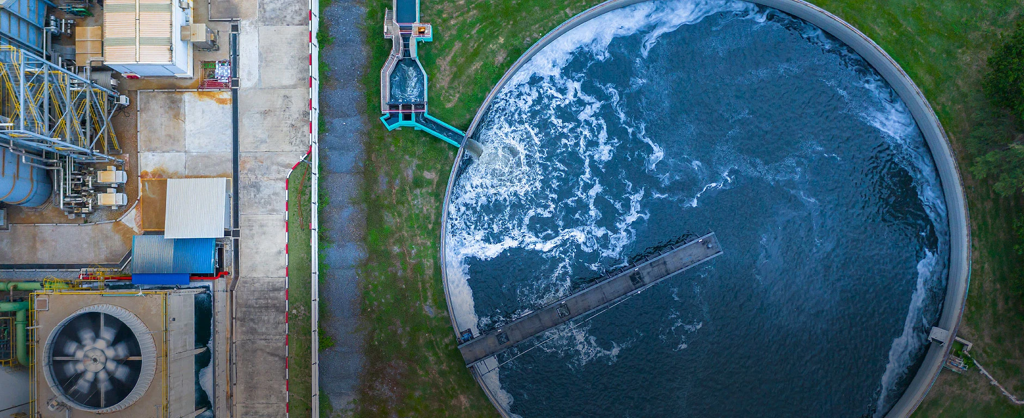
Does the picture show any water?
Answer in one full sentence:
Yes, some water is visible.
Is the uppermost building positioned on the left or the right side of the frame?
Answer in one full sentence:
You can find the uppermost building on the left side of the picture.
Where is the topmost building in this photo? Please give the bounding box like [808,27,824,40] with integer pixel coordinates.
[104,0,199,79]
